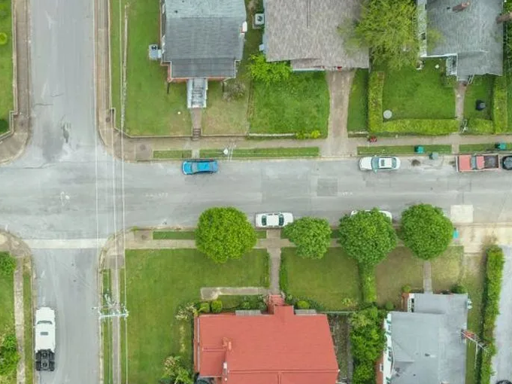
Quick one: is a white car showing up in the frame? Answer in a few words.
Yes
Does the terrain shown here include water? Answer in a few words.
No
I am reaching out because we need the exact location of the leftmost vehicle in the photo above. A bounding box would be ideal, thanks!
[33,304,58,371]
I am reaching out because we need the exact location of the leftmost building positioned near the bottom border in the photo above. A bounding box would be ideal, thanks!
[197,294,339,384]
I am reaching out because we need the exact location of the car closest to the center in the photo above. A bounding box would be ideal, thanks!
[255,211,294,229]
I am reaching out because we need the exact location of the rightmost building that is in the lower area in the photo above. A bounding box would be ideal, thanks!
[370,290,476,384]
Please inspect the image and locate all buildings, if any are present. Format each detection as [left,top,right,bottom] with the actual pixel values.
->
[417,0,512,86]
[161,0,247,108]
[260,0,369,74]
[370,290,476,384]
[197,294,339,384]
